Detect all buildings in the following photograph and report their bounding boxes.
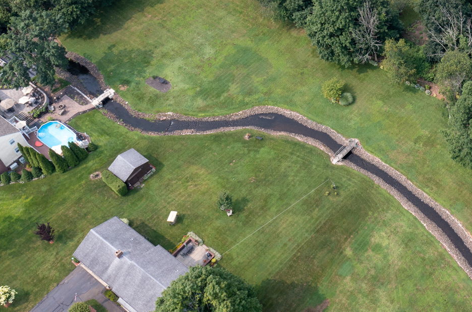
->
[0,108,30,173]
[73,217,217,312]
[108,149,150,188]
